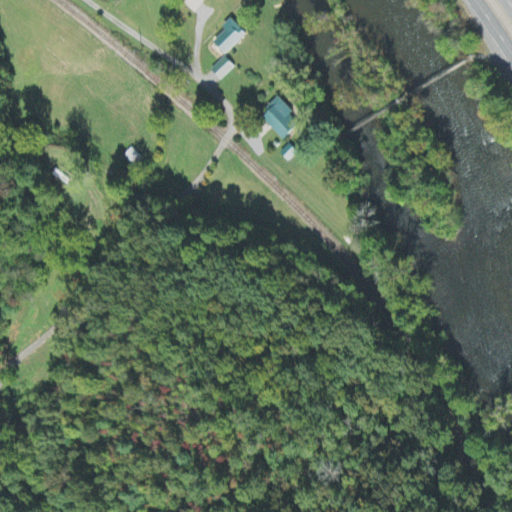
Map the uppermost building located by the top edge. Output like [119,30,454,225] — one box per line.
[214,20,245,52]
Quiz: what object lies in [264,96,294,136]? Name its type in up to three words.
house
